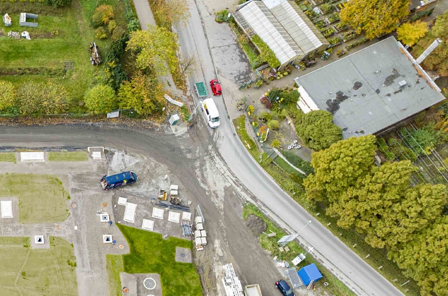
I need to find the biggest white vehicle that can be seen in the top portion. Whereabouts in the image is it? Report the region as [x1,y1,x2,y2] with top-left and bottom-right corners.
[197,93,222,128]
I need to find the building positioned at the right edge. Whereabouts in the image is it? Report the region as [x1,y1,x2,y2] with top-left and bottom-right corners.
[289,34,448,152]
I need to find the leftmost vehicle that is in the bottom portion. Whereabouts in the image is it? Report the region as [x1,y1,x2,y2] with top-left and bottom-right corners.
[96,170,137,195]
